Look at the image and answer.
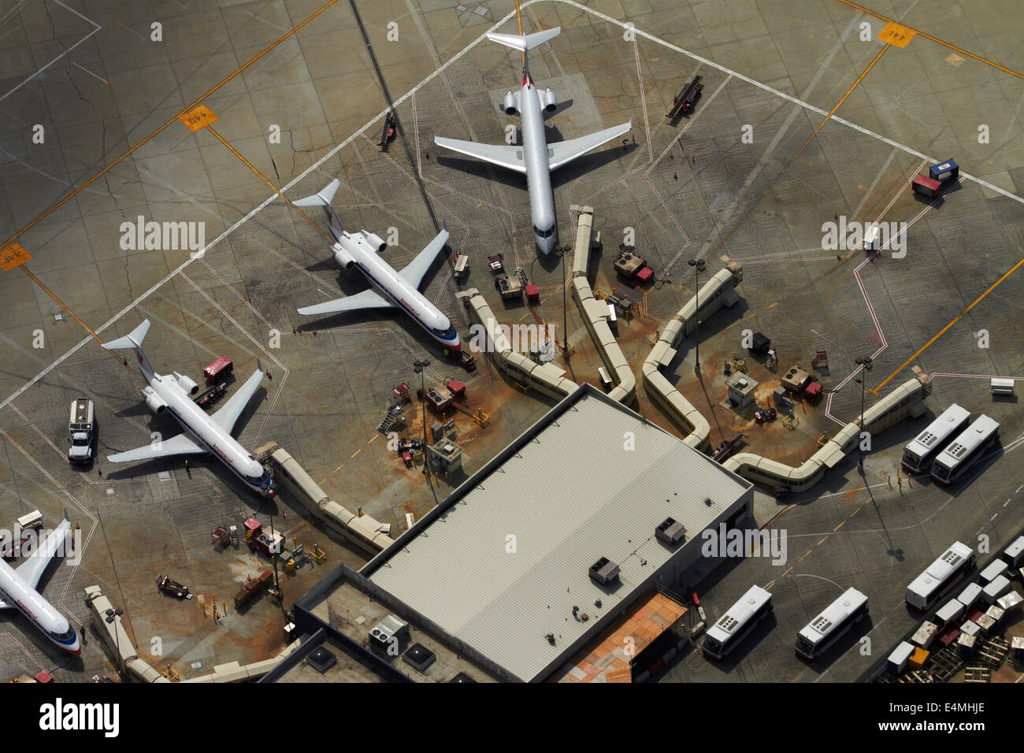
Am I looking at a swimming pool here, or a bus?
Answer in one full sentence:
Looking from above, you can make out a bus.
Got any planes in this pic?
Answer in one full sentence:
Yes, you can see a plane in this photo.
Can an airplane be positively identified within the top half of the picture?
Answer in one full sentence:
Yes, there is an airplane within the top half of the picture.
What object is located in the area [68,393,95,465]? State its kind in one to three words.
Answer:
truck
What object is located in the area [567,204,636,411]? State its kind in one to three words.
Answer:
jet bridge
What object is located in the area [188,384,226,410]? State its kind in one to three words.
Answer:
work vehicle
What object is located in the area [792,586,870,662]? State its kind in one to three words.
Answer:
bus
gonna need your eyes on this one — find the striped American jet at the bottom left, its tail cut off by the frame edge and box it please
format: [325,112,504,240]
[0,509,81,653]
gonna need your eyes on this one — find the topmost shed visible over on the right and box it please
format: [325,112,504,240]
[724,370,761,412]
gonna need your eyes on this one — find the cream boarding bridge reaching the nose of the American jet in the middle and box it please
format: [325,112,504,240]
[455,288,583,408]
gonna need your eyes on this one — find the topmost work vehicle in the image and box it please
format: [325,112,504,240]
[667,75,704,119]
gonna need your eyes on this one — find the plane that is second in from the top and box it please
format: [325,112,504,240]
[291,183,460,352]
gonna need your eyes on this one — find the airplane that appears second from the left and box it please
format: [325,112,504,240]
[101,324,274,498]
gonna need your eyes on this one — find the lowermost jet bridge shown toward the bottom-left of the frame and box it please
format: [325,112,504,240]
[84,589,315,714]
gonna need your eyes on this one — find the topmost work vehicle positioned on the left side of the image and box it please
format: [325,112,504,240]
[379,113,402,146]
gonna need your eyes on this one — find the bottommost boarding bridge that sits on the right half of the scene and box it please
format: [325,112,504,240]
[722,366,935,502]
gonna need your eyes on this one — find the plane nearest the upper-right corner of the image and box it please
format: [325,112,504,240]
[429,31,635,256]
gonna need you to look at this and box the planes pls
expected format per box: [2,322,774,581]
[101,324,274,498]
[429,31,635,256]
[291,183,460,352]
[0,509,81,653]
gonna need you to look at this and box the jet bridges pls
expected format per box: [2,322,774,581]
[642,256,746,455]
[84,589,315,714]
[253,441,393,563]
[567,204,636,411]
[455,288,583,408]
[722,366,935,502]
